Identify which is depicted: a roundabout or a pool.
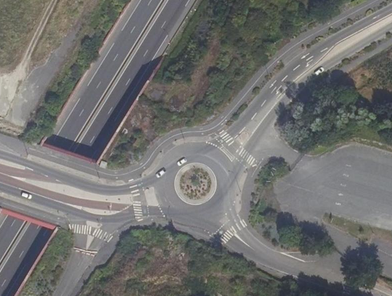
roundabout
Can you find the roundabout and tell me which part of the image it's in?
center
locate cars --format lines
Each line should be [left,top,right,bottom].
[314,66,324,74]
[21,192,32,199]
[176,156,188,166]
[156,168,166,177]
